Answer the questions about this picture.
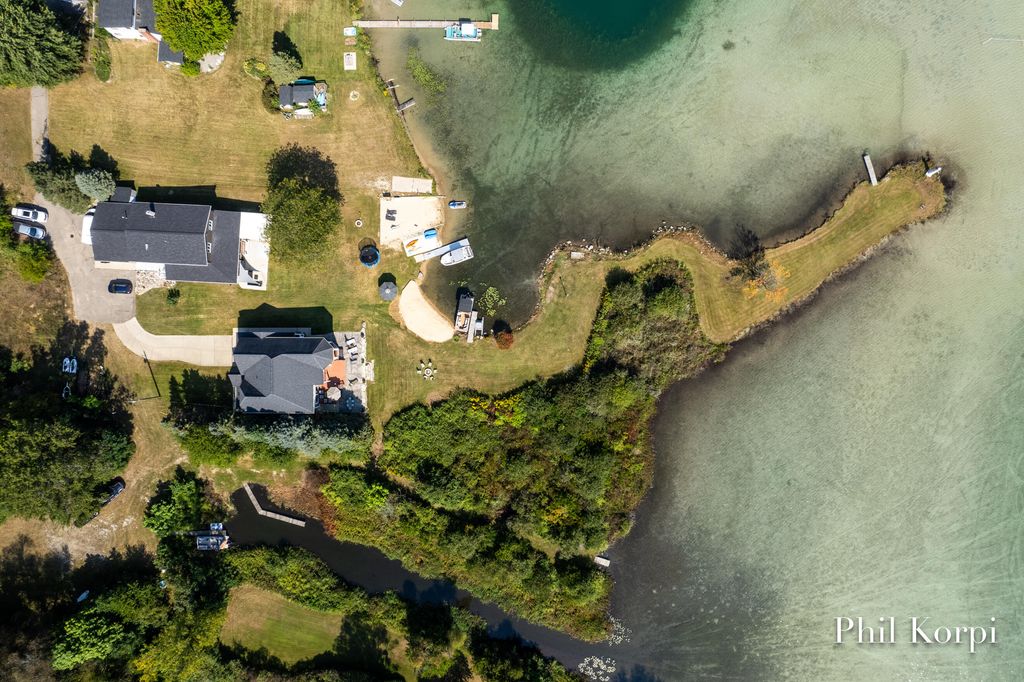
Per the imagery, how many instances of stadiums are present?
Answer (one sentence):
I count no stadiums.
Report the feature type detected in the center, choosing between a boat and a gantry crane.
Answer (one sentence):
You can see a boat in the center.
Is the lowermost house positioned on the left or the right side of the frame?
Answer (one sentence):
The lowermost house is on the left side of the image.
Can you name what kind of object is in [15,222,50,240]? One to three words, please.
car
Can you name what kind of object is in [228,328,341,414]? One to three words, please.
house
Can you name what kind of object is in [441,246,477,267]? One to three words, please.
boat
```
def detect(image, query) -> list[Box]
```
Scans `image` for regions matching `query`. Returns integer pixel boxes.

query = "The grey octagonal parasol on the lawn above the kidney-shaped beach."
[380,282,397,300]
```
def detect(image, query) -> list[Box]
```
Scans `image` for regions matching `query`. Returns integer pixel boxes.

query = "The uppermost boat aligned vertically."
[454,294,475,336]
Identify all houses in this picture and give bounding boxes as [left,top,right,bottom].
[228,328,341,414]
[97,0,188,66]
[91,187,244,283]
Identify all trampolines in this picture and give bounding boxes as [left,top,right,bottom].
[357,244,380,266]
